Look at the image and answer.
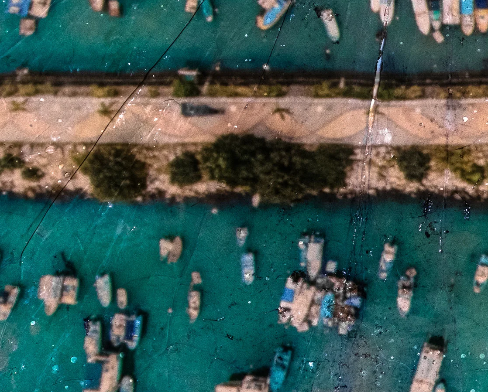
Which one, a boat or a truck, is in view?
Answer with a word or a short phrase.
boat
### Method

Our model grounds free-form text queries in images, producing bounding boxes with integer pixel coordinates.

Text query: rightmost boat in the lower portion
[471,252,488,295]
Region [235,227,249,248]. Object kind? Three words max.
boat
